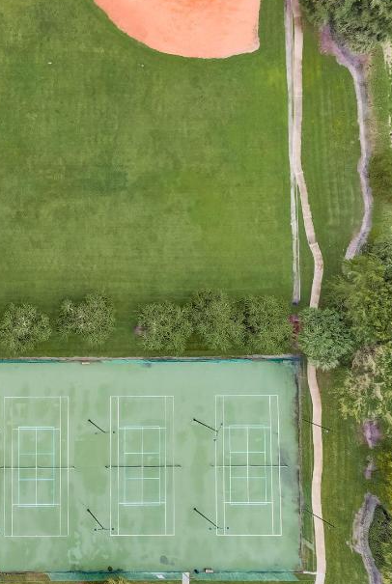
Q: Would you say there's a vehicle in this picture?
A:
No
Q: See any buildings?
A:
No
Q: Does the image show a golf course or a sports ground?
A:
sports ground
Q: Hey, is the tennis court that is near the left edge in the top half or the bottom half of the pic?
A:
bottom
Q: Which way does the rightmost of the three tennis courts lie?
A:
vertically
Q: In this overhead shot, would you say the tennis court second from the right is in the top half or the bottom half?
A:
bottom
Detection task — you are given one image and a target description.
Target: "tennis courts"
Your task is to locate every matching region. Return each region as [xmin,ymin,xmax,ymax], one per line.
[0,384,76,548]
[104,383,182,547]
[208,383,289,547]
